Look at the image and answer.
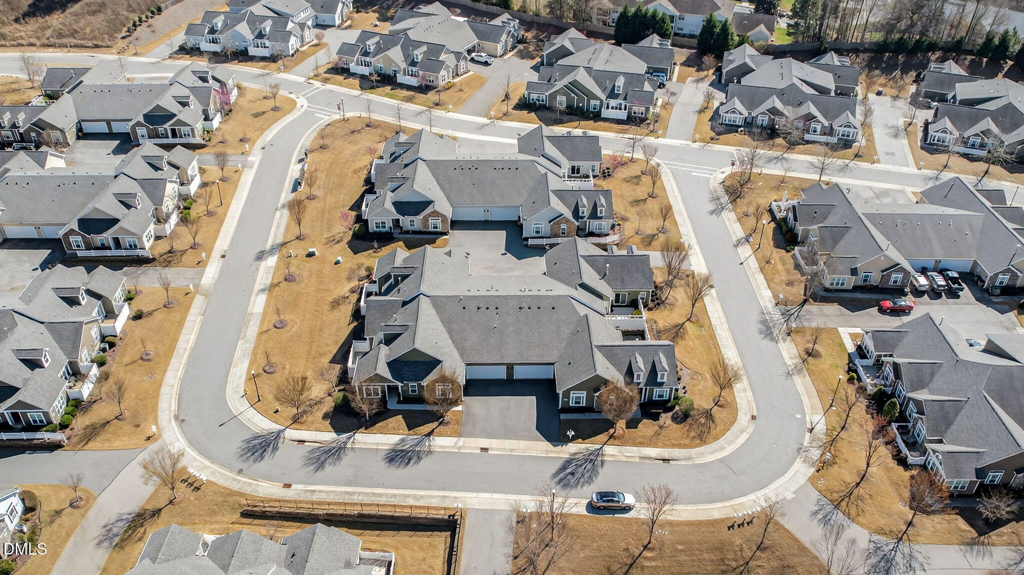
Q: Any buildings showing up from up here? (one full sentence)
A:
Yes, the image includes a building.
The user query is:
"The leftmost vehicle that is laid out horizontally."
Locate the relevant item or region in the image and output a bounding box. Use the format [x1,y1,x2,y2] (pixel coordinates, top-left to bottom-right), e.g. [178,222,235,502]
[470,52,496,64]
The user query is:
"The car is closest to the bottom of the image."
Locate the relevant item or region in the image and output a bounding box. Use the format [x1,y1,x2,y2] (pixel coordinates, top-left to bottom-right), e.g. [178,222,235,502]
[590,489,637,512]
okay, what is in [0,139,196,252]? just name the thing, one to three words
house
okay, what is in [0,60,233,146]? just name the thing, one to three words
house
